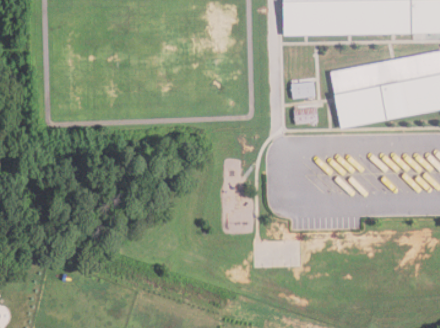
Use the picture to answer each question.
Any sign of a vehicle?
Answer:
Yes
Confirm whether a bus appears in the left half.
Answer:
No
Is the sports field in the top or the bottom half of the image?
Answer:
top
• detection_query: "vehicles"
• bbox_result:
[368,152,388,172]
[312,156,333,176]
[424,153,440,172]
[421,172,440,192]
[344,154,366,174]
[334,176,355,196]
[334,154,355,174]
[326,158,348,177]
[402,153,424,174]
[348,176,368,197]
[390,152,412,172]
[400,173,422,194]
[414,176,432,192]
[380,153,400,174]
[380,176,398,194]
[413,152,434,173]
